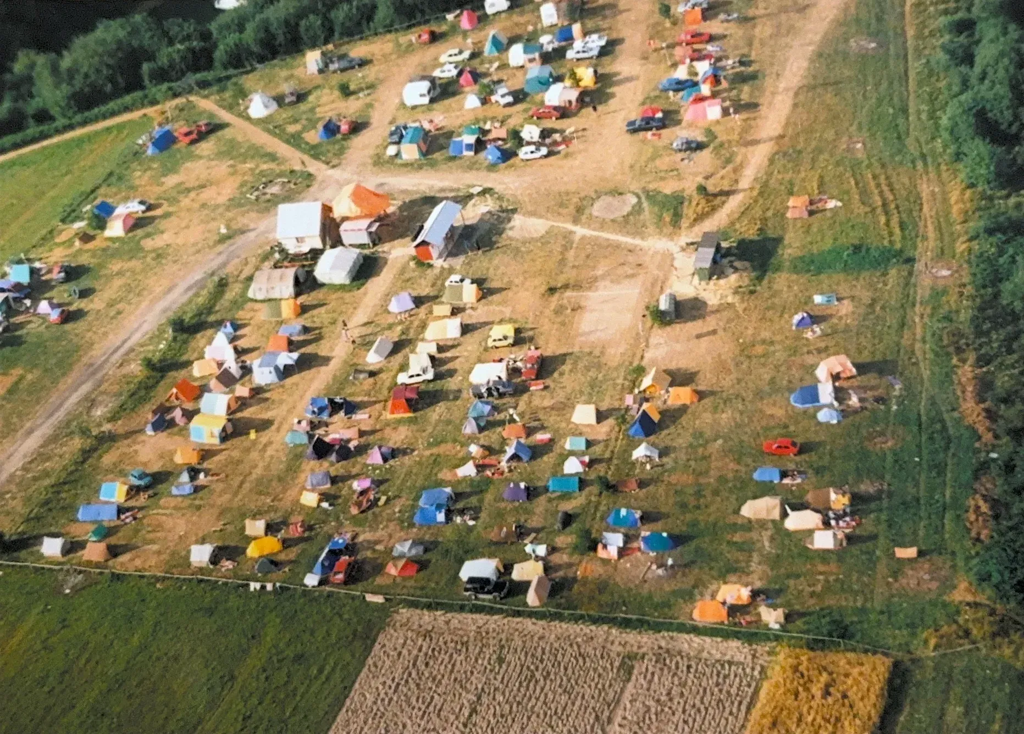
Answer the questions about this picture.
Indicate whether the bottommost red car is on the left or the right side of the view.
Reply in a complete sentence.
The bottommost red car sits on the left side.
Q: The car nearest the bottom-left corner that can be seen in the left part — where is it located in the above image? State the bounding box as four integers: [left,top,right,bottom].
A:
[126,464,156,485]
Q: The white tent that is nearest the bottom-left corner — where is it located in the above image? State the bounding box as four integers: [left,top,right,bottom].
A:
[41,536,67,557]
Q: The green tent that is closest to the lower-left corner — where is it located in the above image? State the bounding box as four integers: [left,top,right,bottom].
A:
[83,523,110,542]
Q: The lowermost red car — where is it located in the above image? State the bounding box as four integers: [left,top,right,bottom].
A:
[329,557,355,583]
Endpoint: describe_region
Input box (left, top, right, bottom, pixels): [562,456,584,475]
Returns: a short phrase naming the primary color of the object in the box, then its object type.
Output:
white tent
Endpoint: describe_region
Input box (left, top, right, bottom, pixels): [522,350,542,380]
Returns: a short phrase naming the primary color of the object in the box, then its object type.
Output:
red car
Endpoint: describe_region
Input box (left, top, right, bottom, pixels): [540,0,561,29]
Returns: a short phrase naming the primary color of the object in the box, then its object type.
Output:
white camper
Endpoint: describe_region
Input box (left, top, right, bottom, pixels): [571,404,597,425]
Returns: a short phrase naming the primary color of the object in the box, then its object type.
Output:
white tent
